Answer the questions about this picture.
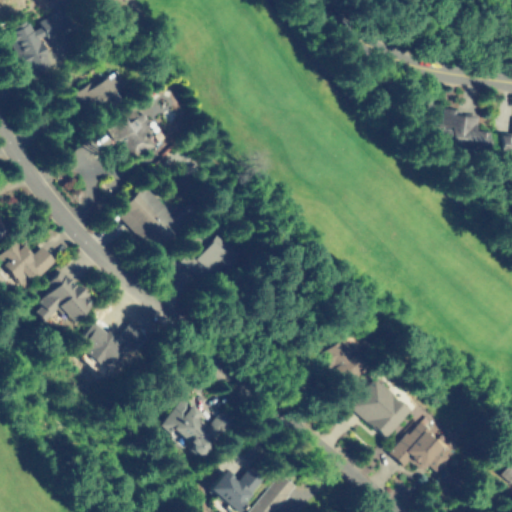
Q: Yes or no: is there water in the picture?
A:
No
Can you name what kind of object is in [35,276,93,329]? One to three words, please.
house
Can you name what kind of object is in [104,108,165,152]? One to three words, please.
house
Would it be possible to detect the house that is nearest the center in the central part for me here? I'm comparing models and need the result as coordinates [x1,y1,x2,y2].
[193,237,240,279]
